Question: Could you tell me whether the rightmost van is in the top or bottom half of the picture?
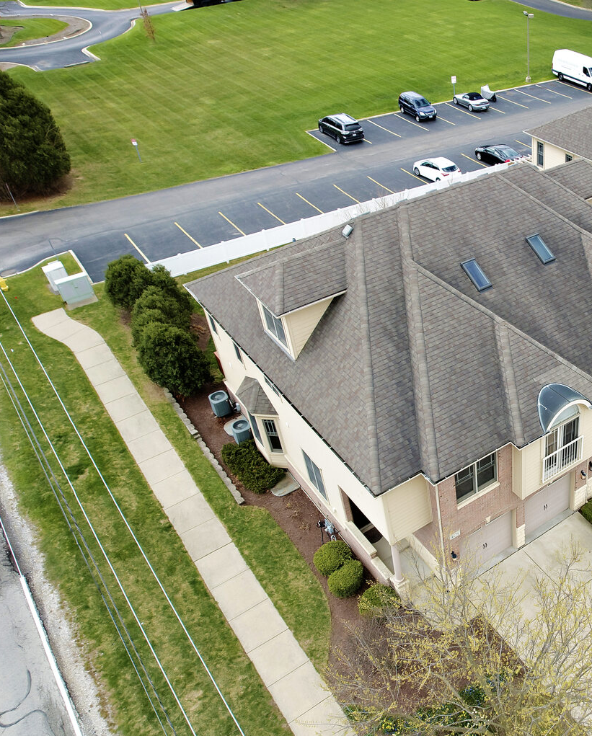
top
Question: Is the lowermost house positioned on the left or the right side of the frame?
right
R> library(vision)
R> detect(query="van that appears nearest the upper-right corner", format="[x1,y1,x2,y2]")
[552,49,592,90]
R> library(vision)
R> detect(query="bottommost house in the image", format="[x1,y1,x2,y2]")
[181,155,592,595]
